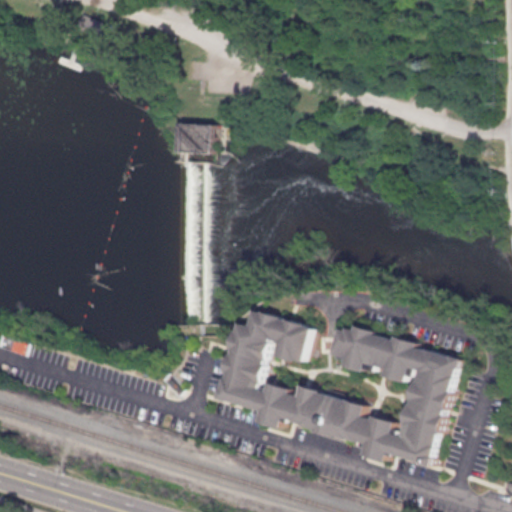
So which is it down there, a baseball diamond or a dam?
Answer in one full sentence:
I can see a dam in this picture.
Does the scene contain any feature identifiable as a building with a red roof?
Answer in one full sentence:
No, I can see no building with a red roof in this picture.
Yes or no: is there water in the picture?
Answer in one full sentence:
Yes, the picture does contain water.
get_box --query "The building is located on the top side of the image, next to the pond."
[175,124,214,154]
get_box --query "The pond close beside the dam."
[0,48,184,350]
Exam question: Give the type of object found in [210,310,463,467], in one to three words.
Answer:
building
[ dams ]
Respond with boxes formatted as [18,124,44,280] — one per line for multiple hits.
[176,154,244,338]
